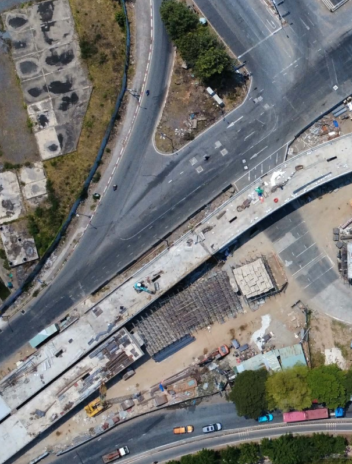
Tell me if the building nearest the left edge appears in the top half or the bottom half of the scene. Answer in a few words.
bottom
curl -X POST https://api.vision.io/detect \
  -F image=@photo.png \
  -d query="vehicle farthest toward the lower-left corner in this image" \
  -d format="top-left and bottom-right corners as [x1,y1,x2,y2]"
[100,445,132,463]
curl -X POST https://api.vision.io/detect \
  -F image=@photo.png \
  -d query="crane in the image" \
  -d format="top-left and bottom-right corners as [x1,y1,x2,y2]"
[79,395,142,416]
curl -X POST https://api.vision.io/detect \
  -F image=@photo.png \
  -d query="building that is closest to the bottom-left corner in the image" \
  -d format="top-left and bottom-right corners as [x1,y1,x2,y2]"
[30,324,64,348]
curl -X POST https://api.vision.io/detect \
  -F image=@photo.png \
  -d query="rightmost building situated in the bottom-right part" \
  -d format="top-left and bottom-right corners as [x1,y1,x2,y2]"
[277,345,308,367]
